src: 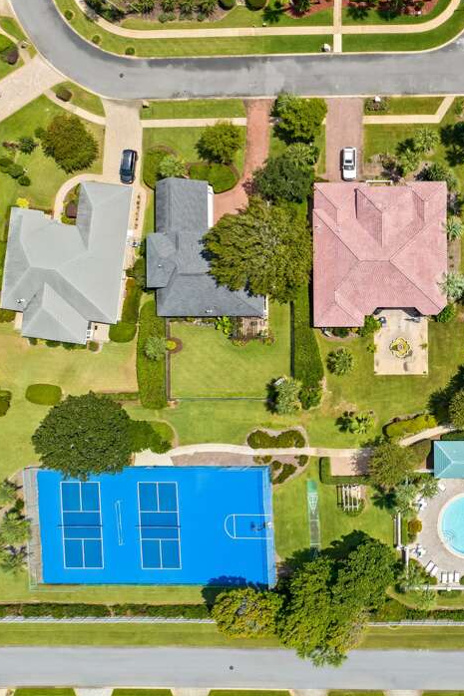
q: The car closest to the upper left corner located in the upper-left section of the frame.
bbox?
[117,149,136,182]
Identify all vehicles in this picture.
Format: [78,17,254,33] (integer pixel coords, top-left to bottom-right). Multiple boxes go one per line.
[341,146,356,179]
[117,149,136,182]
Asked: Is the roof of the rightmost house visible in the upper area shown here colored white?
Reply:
No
